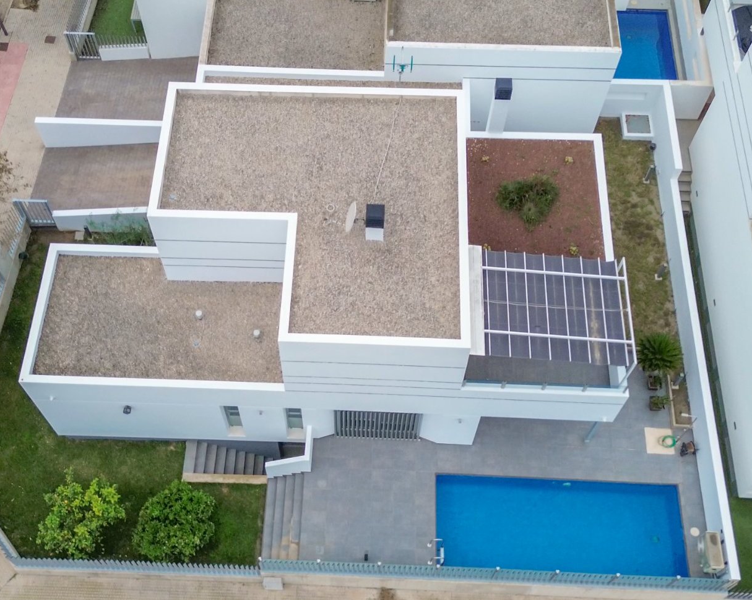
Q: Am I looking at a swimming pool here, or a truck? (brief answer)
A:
swimming pool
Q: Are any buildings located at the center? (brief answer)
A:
Yes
